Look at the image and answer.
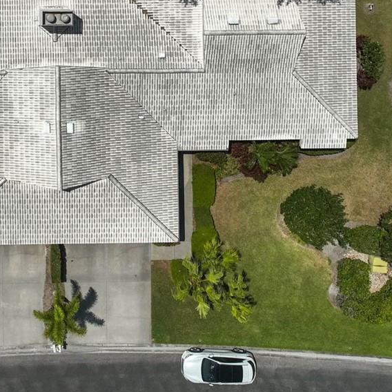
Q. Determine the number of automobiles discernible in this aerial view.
1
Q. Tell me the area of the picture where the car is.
bottom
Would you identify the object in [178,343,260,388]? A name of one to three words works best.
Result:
car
